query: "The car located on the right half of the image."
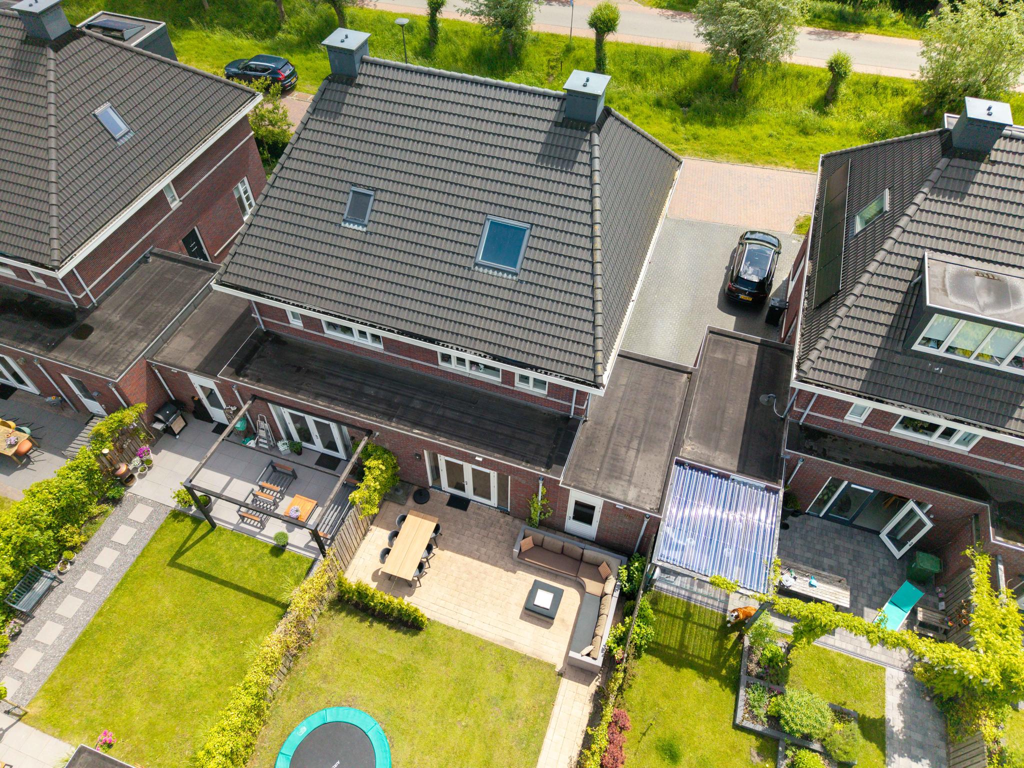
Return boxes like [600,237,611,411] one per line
[726,231,783,305]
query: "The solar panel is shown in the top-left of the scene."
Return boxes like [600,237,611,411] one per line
[86,11,140,39]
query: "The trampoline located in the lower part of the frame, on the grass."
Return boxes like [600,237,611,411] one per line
[275,707,392,768]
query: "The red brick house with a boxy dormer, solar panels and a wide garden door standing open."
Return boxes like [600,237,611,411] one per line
[770,97,1024,608]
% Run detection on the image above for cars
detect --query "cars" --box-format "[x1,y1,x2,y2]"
[726,231,783,305]
[226,52,301,96]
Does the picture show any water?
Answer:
No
